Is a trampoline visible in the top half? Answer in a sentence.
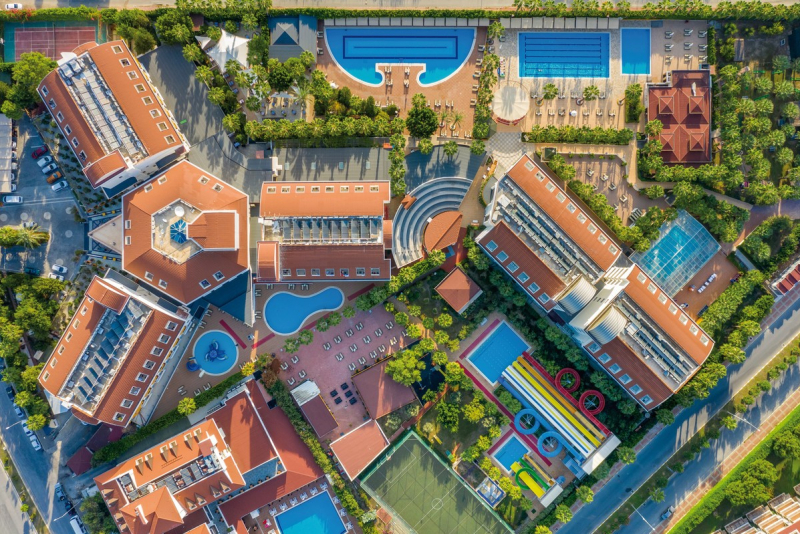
No, there's no trampoline to be seen in the top half.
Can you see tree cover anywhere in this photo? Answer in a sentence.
Yes, there is tree cover in the image.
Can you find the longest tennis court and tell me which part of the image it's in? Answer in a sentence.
The longest tennis court is located in the top left region of the scene.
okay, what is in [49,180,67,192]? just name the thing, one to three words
vehicle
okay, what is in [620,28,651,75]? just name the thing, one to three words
swimming pool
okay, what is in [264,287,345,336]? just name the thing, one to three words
swimming pool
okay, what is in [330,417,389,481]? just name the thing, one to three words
building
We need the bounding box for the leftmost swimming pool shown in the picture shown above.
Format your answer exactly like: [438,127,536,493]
[190,328,239,378]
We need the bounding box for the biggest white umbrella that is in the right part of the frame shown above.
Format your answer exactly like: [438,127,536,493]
[492,86,529,122]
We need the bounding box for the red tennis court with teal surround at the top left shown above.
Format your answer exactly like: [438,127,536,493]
[5,16,107,63]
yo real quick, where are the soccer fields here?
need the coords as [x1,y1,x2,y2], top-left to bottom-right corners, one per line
[361,429,513,534]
